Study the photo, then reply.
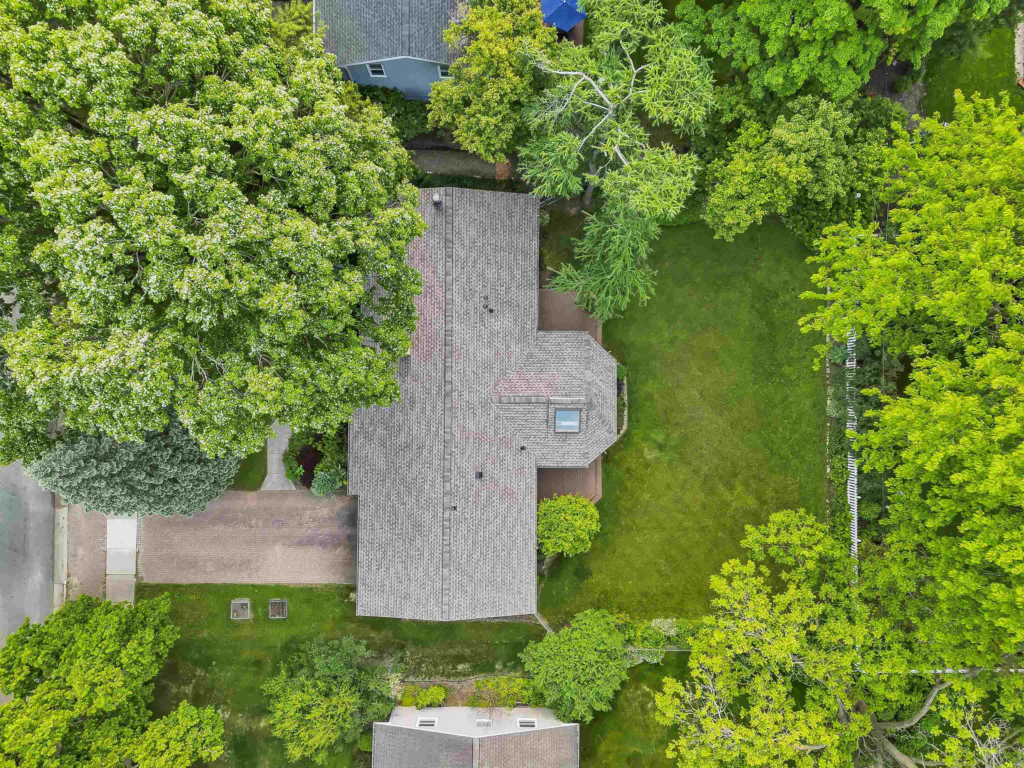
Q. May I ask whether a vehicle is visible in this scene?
No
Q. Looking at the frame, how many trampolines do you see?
none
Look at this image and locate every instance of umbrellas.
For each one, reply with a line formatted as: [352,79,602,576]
[543,0,587,37]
